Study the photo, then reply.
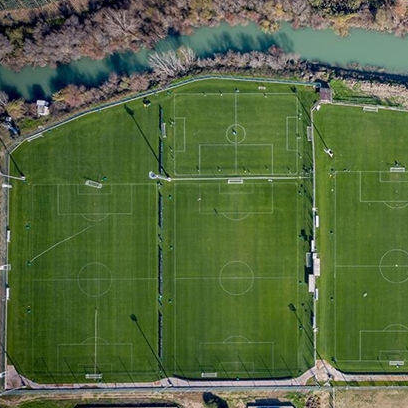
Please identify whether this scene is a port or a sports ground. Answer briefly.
sports ground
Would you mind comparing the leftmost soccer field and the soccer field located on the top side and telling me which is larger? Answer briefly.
the leftmost soccer field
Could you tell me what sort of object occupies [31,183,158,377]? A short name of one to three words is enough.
soccer field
